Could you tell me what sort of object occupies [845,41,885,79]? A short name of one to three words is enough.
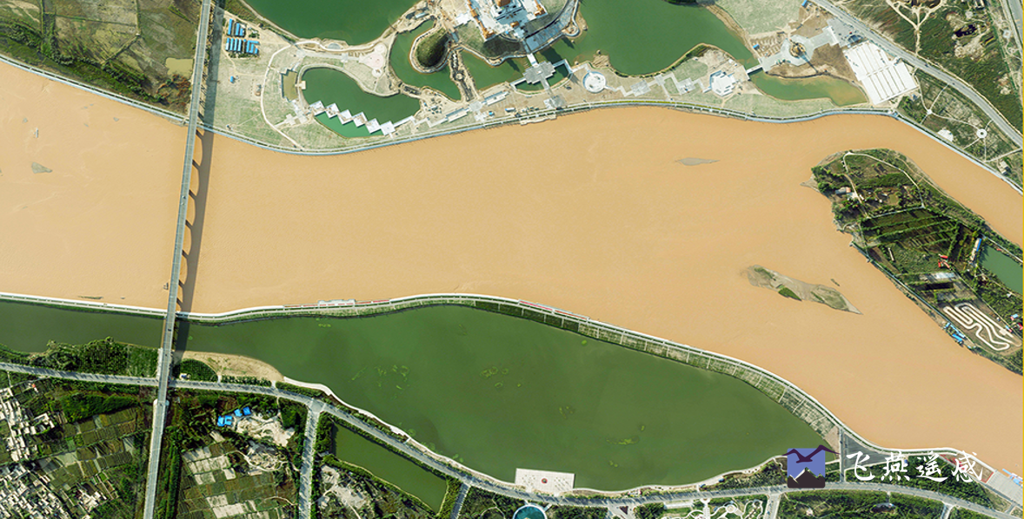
greenhouse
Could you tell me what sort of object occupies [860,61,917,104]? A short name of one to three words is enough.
greenhouse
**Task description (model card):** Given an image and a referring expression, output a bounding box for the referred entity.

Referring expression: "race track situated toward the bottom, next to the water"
[942,302,1023,352]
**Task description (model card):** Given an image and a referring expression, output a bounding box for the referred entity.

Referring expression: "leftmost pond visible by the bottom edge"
[333,424,446,512]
